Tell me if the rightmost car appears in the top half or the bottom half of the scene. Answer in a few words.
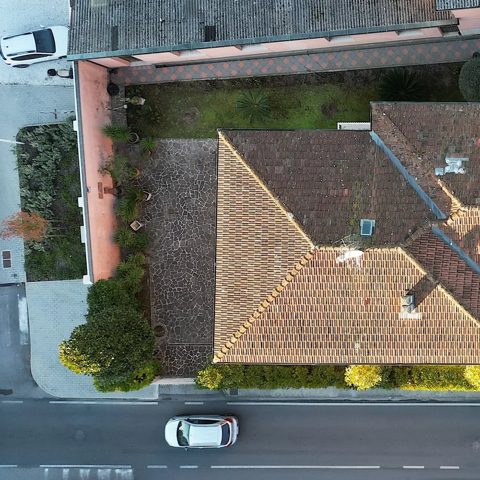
bottom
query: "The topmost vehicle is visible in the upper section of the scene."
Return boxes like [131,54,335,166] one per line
[0,23,79,70]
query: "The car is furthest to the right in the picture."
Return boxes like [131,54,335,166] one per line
[167,412,242,452]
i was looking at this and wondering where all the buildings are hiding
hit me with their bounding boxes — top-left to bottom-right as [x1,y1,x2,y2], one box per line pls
[210,100,480,367]
[67,0,465,67]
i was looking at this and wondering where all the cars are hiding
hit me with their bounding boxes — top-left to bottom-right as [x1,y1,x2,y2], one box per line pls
[167,412,242,452]
[0,23,79,70]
